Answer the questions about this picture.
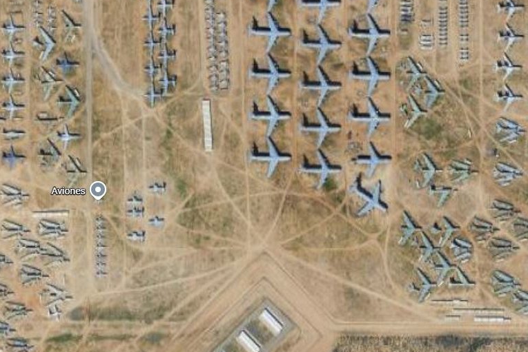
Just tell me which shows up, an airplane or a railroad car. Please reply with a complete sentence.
Looking from above, you can make out an airplane.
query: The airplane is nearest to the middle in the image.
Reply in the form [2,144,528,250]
[250,137,291,178]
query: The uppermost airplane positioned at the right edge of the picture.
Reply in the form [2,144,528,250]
[499,0,525,20]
